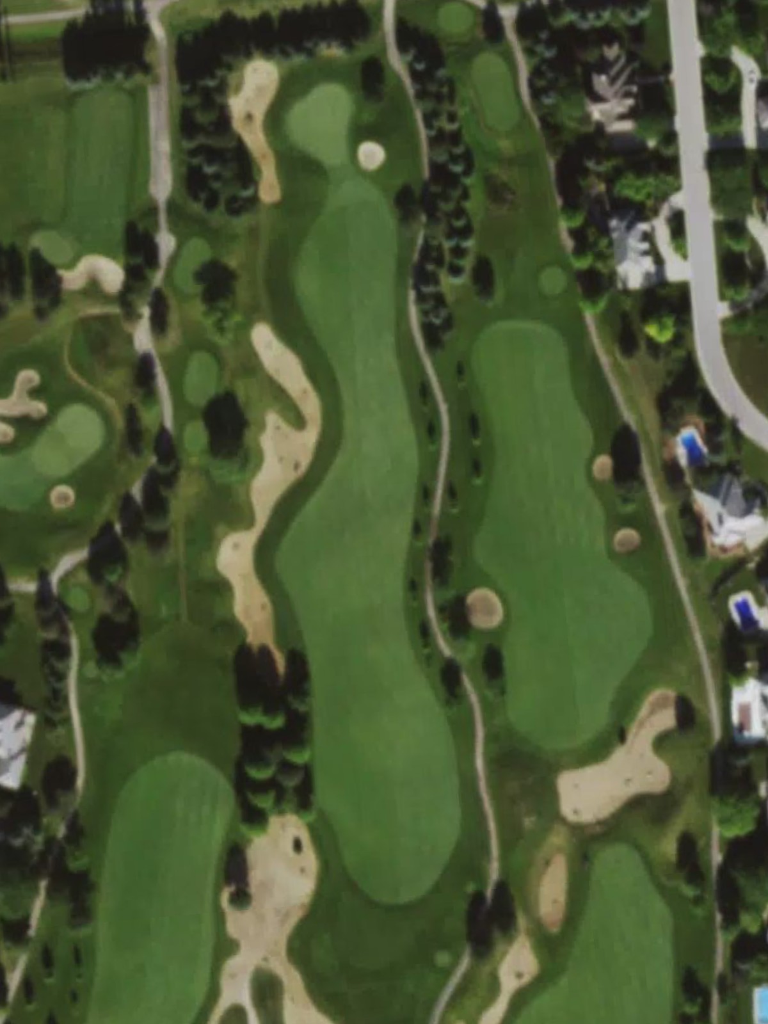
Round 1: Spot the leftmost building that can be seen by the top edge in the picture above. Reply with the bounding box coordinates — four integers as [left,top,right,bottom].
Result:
[589,39,644,119]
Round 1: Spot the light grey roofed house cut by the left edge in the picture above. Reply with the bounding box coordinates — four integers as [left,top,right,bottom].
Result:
[0,706,38,789]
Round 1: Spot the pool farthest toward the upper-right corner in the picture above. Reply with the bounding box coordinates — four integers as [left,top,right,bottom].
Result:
[675,425,709,470]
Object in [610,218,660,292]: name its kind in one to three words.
house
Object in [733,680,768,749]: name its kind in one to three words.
house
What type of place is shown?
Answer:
golf course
